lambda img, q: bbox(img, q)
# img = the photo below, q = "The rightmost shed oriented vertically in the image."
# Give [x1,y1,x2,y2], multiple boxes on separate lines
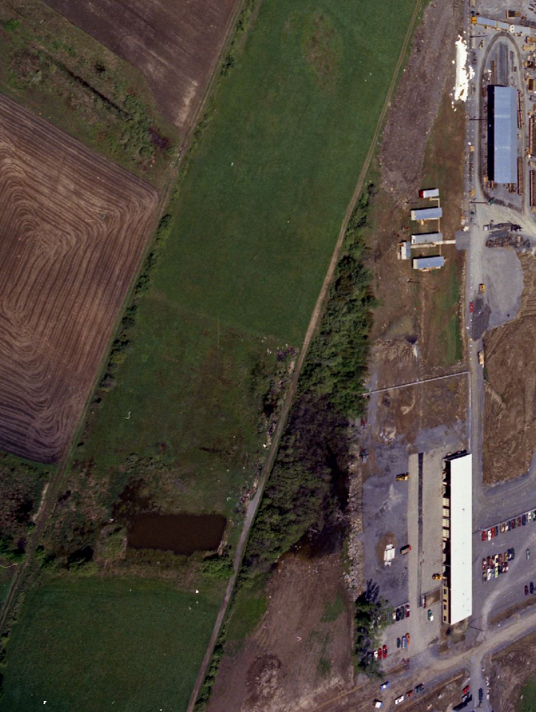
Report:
[488,86,516,184]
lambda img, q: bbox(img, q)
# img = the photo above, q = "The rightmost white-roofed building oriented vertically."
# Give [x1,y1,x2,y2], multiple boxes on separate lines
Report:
[442,452,471,625]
